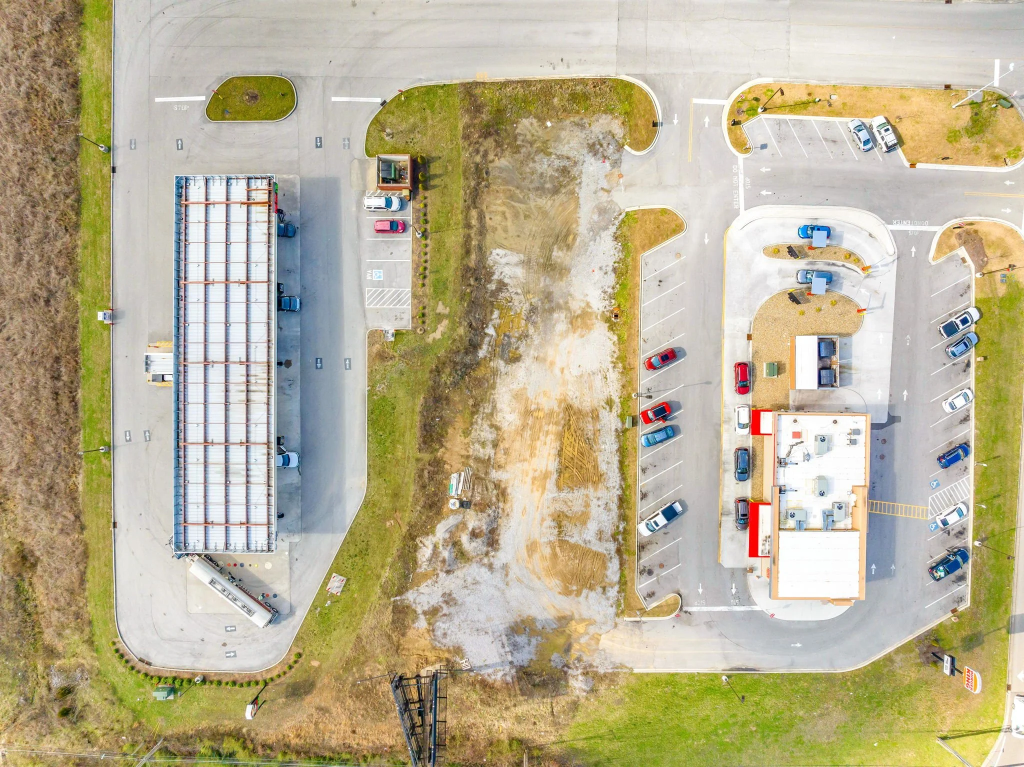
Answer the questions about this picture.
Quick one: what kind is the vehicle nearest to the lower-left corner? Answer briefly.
truck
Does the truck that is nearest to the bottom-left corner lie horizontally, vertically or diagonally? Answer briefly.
diagonally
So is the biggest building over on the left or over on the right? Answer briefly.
right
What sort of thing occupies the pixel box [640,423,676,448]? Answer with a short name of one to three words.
car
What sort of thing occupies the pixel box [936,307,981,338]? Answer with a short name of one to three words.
truck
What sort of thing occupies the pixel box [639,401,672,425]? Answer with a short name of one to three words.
car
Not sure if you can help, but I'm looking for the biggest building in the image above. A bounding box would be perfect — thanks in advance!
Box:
[748,410,871,607]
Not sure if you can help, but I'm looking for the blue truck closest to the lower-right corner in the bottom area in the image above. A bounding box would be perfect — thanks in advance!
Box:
[927,548,971,581]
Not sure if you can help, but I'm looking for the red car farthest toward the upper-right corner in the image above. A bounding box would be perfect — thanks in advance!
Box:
[733,361,752,395]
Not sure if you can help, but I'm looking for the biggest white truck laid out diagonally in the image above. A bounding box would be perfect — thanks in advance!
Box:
[170,544,278,628]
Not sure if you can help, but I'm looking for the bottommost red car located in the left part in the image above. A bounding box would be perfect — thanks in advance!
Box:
[374,218,405,235]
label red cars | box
[374,218,405,235]
[639,401,672,425]
[733,361,752,395]
[643,347,678,372]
